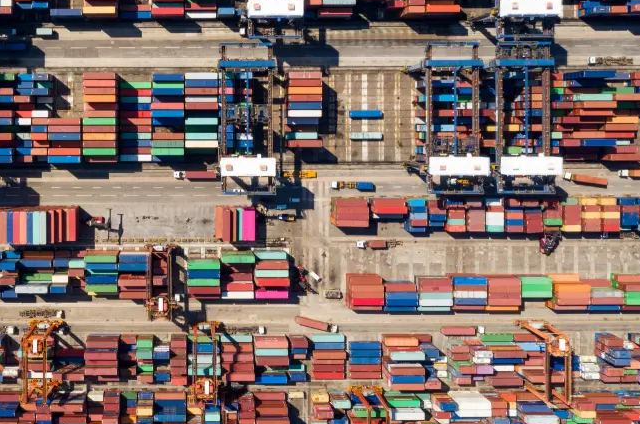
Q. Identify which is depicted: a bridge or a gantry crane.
gantry crane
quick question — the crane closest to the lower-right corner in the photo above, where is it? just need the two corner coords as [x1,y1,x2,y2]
[511,319,570,407]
